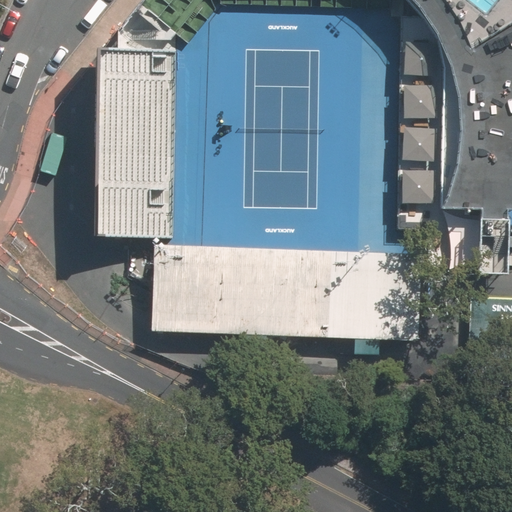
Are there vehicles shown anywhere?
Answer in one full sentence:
Yes, you can see a vehicle in this photo.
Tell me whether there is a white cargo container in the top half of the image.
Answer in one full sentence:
No, no white cargo container appears in the top half of the image.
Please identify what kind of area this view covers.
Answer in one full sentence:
What you see here is a sports ground.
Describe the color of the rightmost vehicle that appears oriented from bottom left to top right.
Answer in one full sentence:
The rightmost vehicle that appears oriented from bottom left to top right is white.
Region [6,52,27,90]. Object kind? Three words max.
truck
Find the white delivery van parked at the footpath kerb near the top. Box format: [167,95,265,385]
[81,0,108,27]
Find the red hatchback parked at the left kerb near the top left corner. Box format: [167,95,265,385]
[1,10,20,38]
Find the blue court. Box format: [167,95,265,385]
[170,0,405,252]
